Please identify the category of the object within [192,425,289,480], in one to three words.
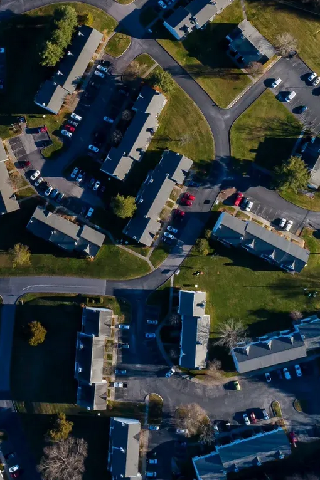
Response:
building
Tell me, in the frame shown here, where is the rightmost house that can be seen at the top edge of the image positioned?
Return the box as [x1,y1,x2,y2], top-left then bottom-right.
[227,19,278,68]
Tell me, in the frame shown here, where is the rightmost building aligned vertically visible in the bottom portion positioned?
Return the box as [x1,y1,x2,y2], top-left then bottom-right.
[173,287,211,369]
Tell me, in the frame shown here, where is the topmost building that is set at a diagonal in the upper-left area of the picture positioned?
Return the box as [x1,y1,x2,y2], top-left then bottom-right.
[35,24,105,113]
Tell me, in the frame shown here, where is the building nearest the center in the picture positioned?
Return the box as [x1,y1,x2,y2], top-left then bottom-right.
[125,149,194,246]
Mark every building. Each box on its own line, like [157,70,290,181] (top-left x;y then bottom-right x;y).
[101,88,165,180]
[299,136,320,187]
[192,425,289,480]
[76,306,114,411]
[162,0,228,40]
[0,136,20,215]
[173,287,211,369]
[111,416,144,480]
[227,19,278,68]
[212,209,311,272]
[35,24,105,113]
[27,204,106,256]
[125,149,194,246]
[232,316,320,374]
